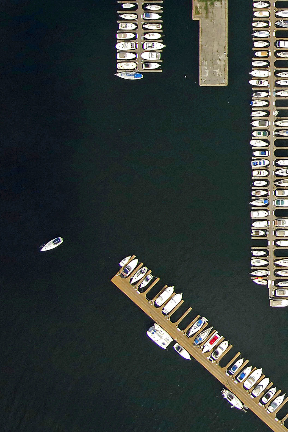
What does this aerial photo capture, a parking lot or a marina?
marina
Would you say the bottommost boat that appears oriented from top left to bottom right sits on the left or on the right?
right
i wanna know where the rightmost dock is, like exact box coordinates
[251,0,288,300]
